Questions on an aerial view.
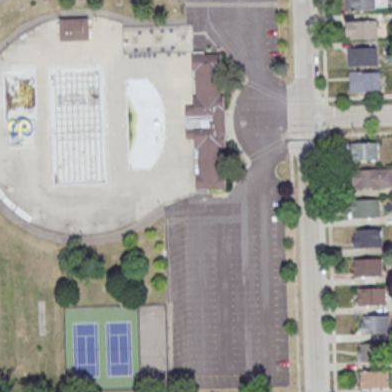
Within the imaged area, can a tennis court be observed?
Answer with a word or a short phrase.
Yes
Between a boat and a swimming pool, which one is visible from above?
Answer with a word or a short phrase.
swimming pool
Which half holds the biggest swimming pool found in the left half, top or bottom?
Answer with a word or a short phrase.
top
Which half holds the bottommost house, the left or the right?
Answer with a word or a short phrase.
right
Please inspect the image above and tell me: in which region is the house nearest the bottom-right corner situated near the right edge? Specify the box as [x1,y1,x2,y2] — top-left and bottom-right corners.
[358,372,390,392]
